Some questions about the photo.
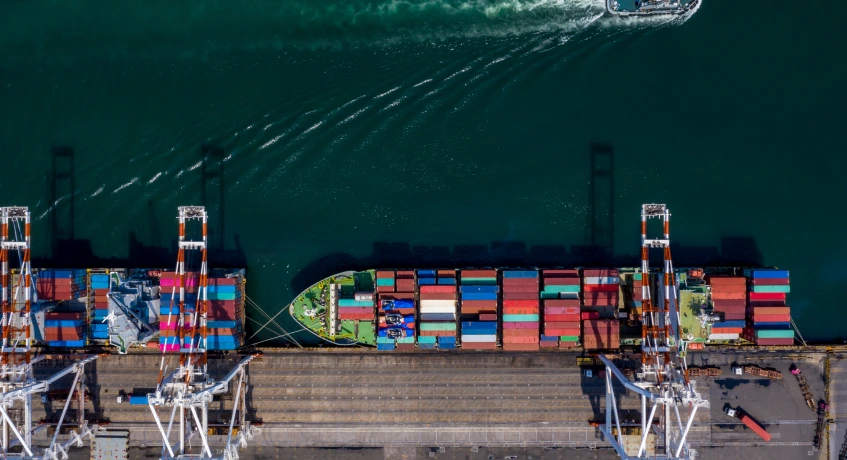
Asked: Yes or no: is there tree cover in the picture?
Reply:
No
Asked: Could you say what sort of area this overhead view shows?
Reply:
port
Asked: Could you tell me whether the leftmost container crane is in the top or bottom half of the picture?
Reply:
bottom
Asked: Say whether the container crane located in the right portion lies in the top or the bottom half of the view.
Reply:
bottom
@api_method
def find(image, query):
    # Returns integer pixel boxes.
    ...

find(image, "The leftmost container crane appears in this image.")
[0,204,112,460]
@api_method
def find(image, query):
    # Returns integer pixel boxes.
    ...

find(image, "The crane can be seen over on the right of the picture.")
[586,204,711,460]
